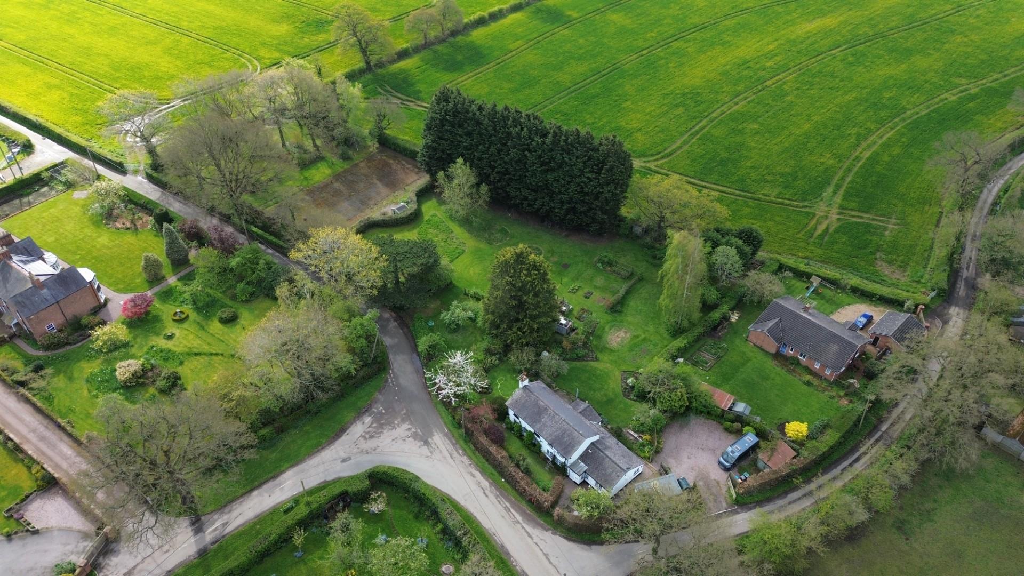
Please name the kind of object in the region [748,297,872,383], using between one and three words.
house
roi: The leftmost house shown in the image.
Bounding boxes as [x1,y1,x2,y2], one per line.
[0,235,109,344]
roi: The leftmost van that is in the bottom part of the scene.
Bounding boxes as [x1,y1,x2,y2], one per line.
[718,426,765,466]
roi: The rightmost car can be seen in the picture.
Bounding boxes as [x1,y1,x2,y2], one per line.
[854,307,876,327]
